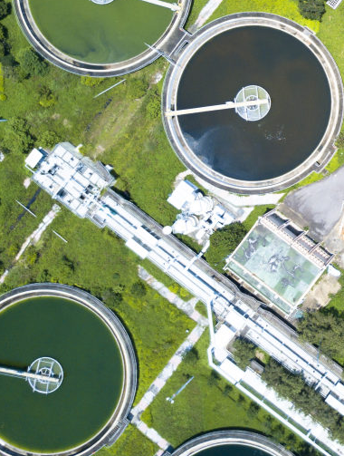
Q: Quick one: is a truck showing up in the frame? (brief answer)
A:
No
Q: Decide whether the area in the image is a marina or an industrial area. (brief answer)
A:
industrial area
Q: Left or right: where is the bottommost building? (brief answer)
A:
right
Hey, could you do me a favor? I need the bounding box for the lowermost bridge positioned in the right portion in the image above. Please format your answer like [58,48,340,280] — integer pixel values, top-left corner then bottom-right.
[160,98,266,120]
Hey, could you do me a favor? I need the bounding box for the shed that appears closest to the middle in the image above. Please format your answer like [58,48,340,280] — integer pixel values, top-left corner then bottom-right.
[167,179,202,209]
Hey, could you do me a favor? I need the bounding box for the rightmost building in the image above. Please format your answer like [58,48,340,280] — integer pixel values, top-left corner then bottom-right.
[221,209,332,315]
